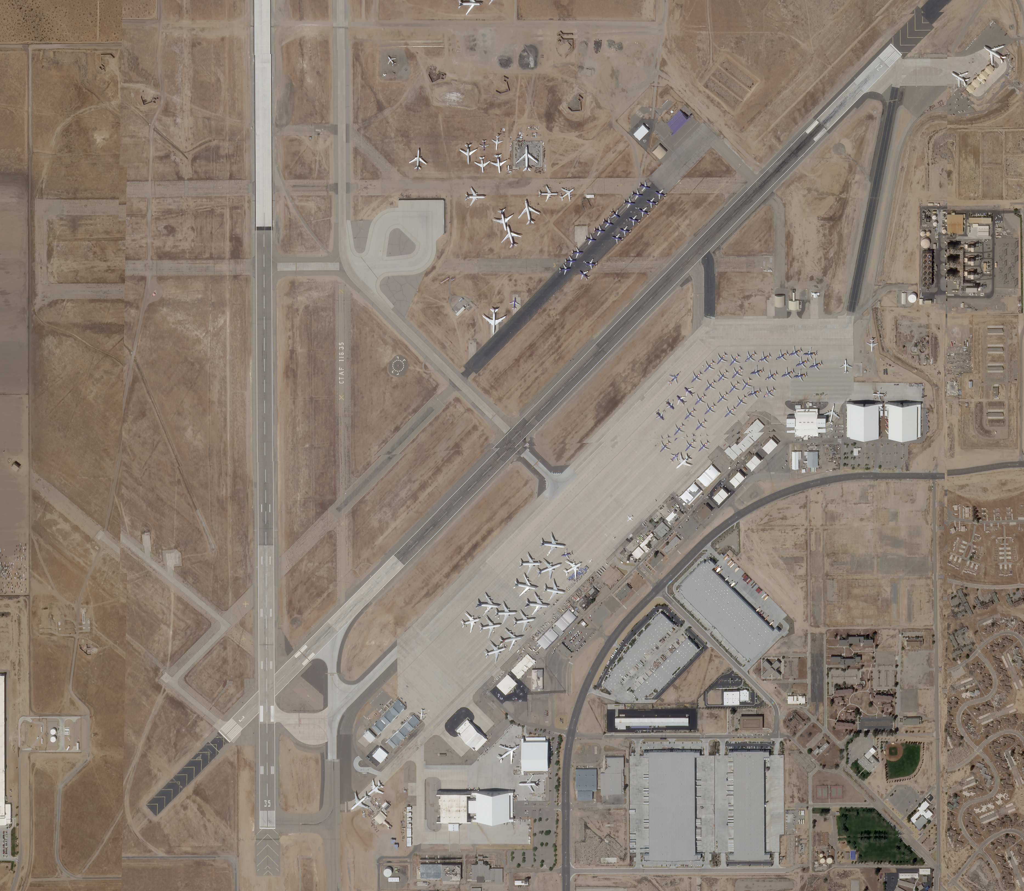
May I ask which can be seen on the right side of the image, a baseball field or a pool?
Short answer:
baseball field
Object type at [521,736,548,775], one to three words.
hangar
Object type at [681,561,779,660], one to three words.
building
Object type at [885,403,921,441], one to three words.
hangar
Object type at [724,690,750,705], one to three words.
building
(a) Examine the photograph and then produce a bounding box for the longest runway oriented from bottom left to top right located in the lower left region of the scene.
[221,620,338,740]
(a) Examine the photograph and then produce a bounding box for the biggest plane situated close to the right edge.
[984,46,1007,64]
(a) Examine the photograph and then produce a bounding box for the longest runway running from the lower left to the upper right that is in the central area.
[255,45,900,705]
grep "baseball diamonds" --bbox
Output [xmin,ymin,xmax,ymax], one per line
[883,742,921,779]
